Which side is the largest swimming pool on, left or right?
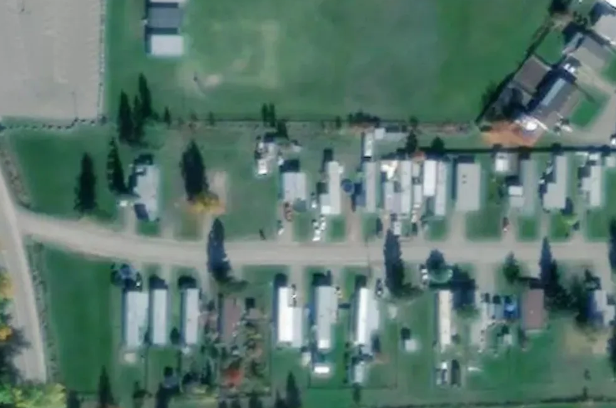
right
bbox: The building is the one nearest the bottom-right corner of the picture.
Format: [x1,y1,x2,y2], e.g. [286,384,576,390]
[591,290,615,326]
